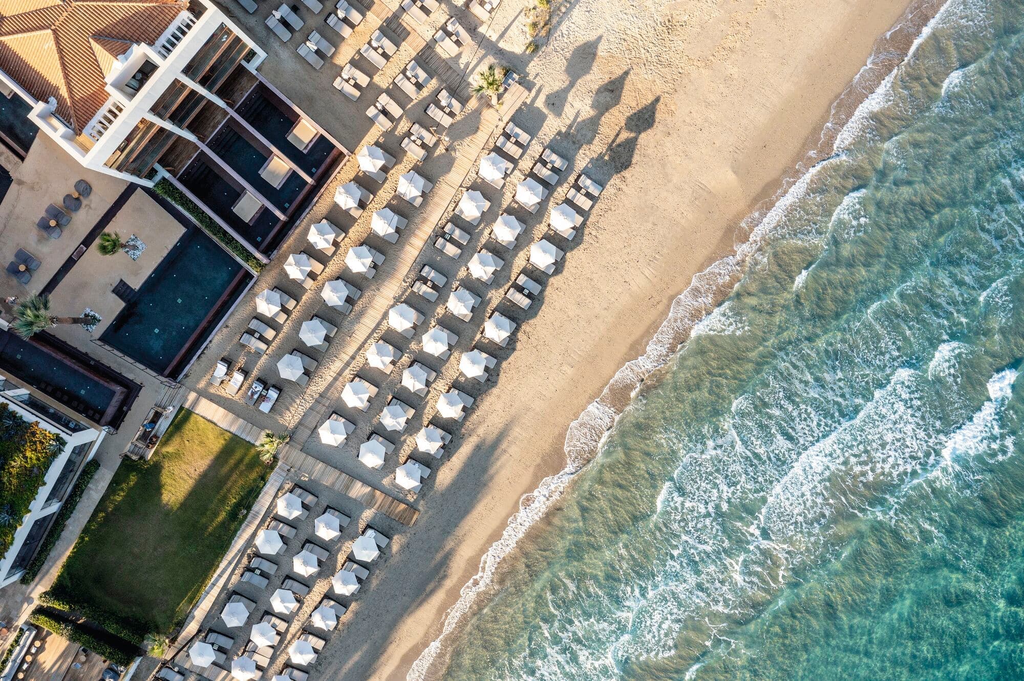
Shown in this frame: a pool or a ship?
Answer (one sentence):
Of the two, only a pool appears.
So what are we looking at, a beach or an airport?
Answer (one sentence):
This image shows a beach.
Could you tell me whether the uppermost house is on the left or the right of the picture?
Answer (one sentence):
The uppermost house sits on the left side.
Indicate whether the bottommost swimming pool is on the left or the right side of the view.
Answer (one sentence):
You can find the bottommost swimming pool on the left side of the picture.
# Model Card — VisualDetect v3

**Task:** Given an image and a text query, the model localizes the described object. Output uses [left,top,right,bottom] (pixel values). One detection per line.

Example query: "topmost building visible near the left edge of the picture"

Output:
[0,0,273,194]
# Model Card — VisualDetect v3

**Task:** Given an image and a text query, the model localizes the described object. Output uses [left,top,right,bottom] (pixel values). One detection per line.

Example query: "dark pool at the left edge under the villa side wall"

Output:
[0,98,47,159]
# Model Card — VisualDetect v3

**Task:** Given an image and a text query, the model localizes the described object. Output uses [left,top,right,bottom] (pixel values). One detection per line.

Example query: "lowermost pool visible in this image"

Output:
[0,319,142,431]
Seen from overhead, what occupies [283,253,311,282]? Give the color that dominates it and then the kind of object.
white umbrella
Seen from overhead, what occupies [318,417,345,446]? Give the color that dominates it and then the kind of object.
white umbrella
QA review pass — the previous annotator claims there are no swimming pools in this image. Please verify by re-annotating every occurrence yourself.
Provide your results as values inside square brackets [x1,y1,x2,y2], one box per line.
[0,319,142,431]
[207,117,314,217]
[237,82,342,181]
[101,200,261,384]
[178,150,285,250]
[0,98,47,159]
